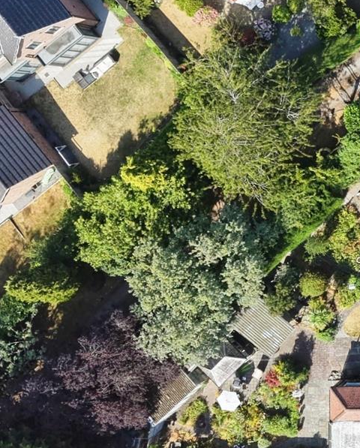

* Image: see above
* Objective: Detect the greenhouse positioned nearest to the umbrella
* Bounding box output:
[210,352,252,387]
